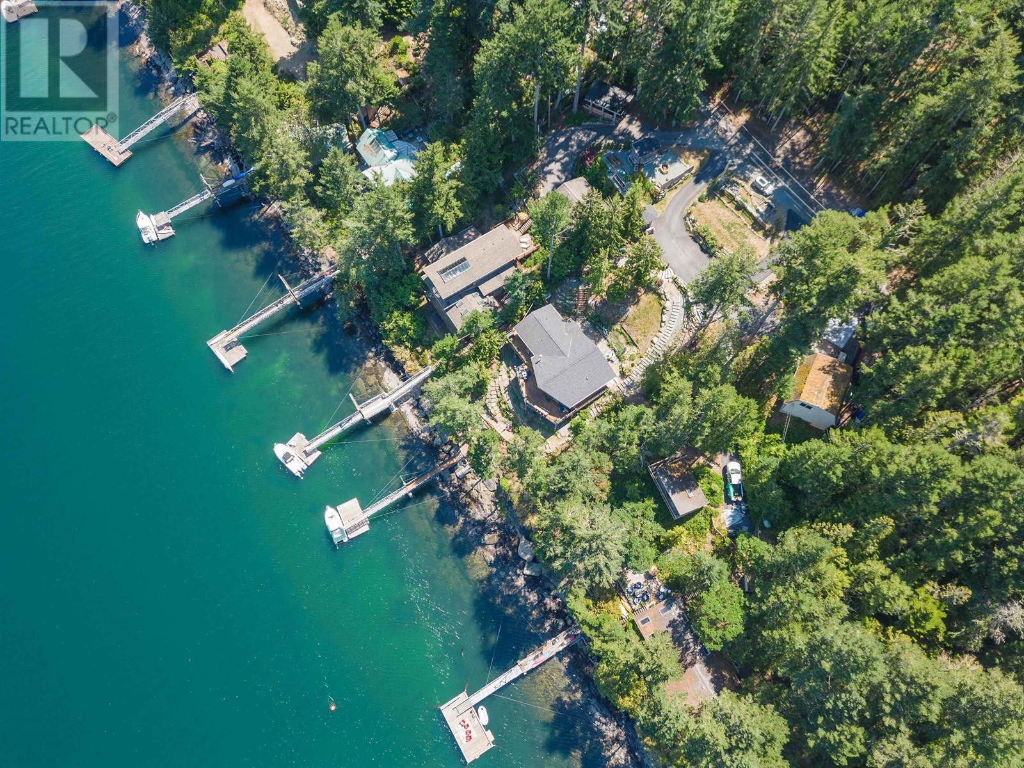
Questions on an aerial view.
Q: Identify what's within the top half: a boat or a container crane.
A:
boat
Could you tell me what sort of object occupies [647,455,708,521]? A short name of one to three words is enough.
house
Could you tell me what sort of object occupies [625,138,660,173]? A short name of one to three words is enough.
building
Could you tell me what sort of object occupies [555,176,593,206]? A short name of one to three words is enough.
shed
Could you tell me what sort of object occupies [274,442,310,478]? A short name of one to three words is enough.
boat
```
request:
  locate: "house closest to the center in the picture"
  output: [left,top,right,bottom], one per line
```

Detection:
[509,304,616,429]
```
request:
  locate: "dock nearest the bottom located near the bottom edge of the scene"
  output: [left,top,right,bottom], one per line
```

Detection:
[440,691,494,764]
